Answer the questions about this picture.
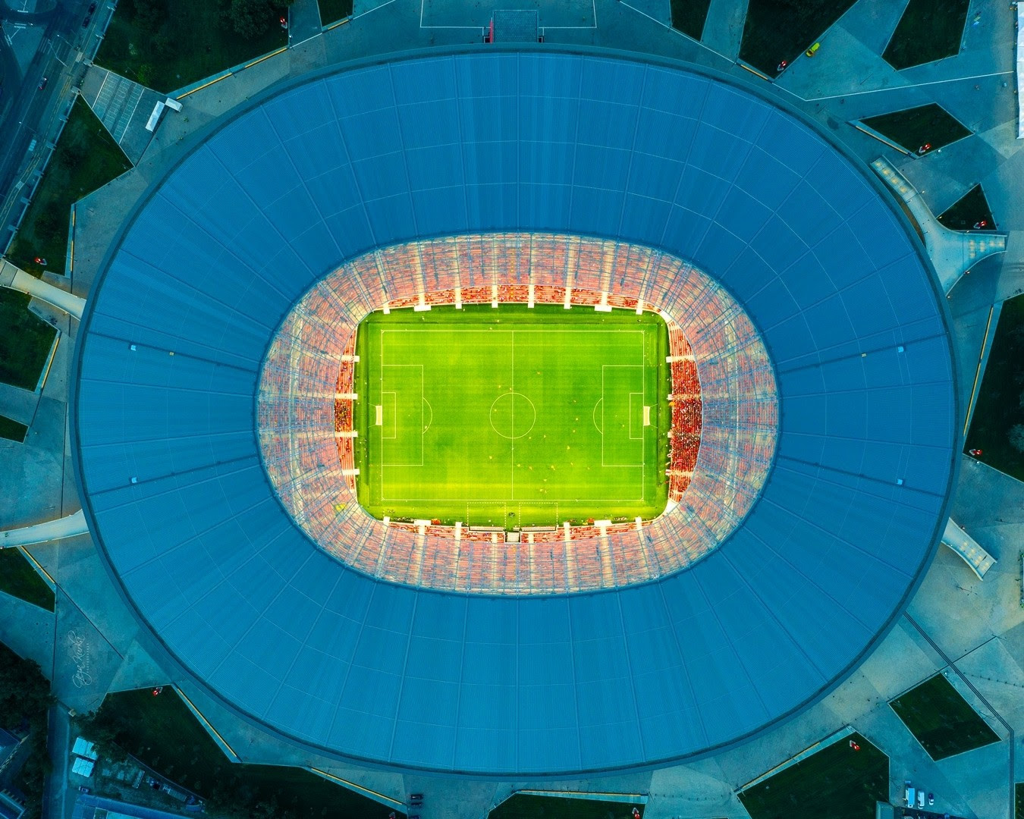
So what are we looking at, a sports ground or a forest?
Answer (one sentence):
It's a sports ground.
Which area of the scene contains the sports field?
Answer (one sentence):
You can find the sports field in the center area of the picture.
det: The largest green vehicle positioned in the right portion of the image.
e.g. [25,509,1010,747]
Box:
[806,41,822,57]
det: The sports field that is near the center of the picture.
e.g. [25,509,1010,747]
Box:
[368,322,658,523]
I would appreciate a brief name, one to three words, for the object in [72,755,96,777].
shed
